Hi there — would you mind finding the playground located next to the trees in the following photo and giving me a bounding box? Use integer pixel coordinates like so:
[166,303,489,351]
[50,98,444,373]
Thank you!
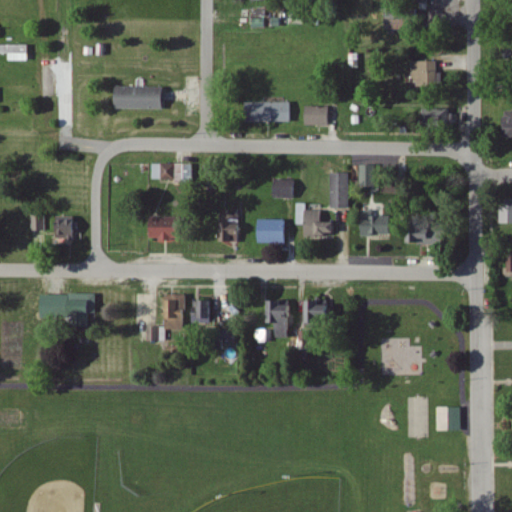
[382,338,426,376]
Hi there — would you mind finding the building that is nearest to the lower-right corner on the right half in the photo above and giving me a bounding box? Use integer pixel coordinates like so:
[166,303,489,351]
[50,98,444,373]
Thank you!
[436,406,460,432]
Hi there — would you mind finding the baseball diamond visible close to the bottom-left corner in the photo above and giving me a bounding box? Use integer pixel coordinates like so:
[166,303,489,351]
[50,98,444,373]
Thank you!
[0,435,96,512]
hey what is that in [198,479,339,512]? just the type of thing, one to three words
baseball field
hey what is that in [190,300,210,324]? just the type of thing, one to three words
house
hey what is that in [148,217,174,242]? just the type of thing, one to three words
house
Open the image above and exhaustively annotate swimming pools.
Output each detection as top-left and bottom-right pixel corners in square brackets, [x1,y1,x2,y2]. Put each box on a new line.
[225,348,238,366]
